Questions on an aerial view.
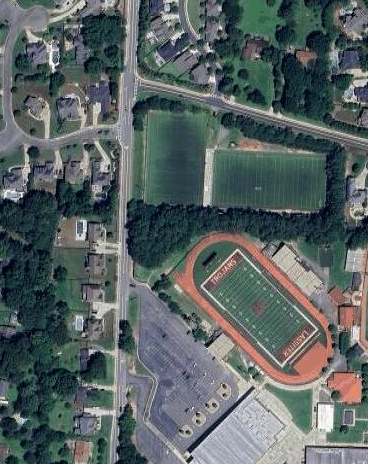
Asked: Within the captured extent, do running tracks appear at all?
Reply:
Yes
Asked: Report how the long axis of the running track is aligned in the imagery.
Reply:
at an angle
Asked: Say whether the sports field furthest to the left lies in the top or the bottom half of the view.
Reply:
top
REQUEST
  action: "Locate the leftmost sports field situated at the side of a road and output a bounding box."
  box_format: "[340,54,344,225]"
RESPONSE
[144,112,206,205]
